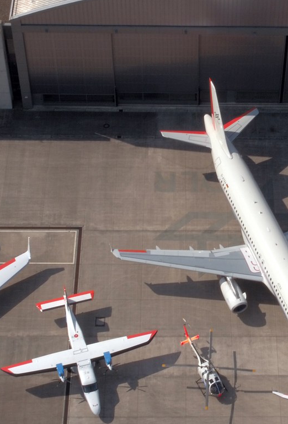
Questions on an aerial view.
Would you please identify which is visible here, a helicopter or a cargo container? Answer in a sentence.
There is a helicopter in the scene.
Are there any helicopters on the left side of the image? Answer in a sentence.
No, no helicopter is visible on the left side of the image.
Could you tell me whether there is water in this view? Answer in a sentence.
No, no water is visible.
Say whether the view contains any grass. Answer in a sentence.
No, no grass is visible.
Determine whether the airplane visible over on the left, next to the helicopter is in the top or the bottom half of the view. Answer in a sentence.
Seen from above, the airplane visible over on the left, next to the helicopter lies in the bottom half of the view.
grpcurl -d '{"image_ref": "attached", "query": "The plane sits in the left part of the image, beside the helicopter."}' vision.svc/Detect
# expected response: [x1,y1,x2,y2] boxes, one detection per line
[0,287,156,415]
